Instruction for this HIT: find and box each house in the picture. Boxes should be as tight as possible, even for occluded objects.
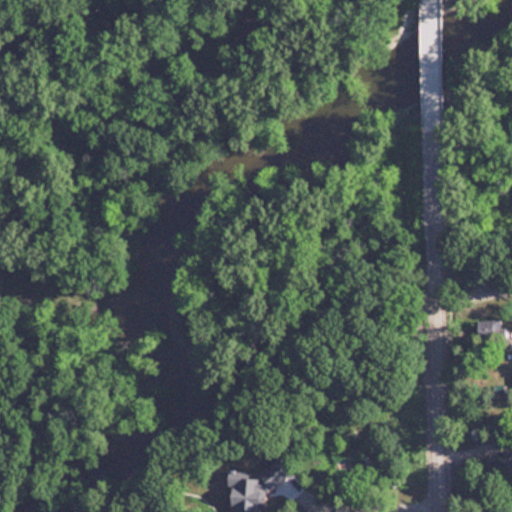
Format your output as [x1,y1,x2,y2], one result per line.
[228,471,270,512]
[478,320,503,334]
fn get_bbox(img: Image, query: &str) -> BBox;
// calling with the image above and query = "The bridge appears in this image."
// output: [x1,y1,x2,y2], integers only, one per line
[419,0,444,131]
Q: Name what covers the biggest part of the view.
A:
trees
